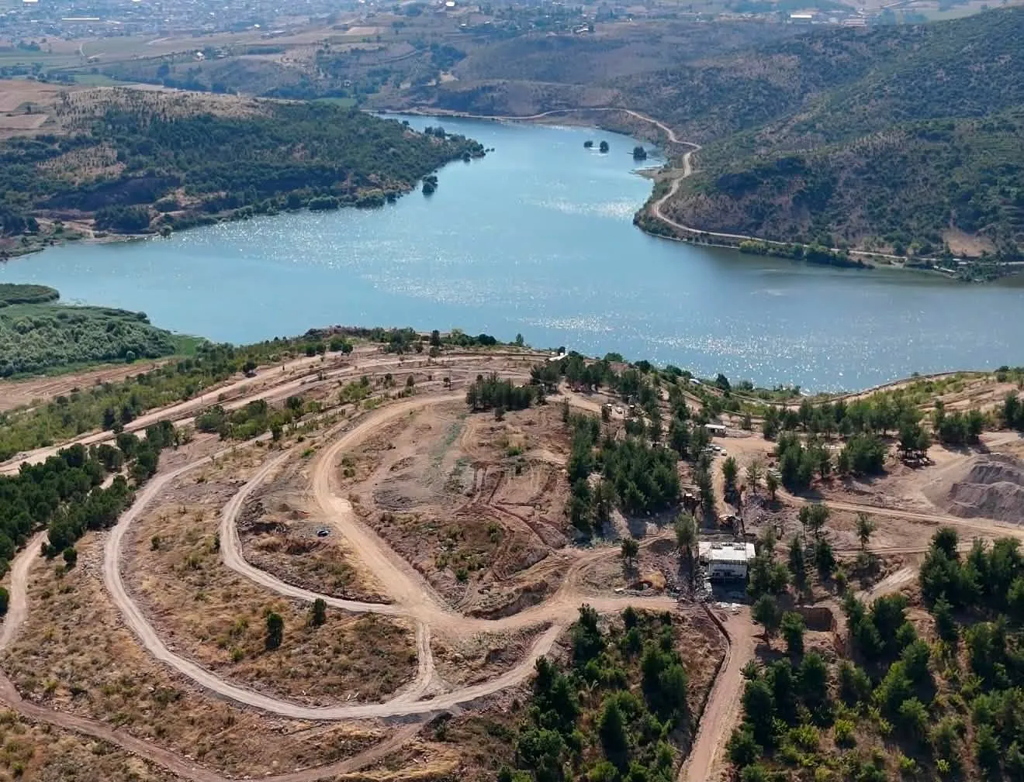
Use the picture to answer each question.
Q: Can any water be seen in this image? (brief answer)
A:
Yes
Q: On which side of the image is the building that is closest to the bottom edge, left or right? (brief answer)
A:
right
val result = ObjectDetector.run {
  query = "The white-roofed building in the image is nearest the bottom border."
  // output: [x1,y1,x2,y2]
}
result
[697,544,756,584]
